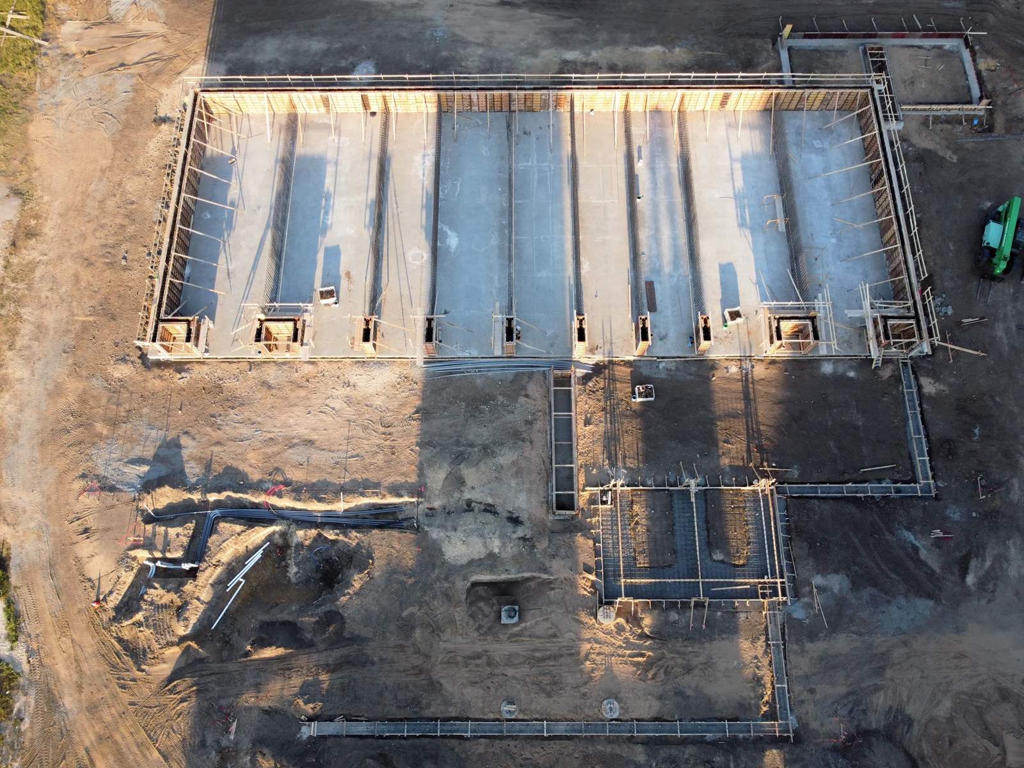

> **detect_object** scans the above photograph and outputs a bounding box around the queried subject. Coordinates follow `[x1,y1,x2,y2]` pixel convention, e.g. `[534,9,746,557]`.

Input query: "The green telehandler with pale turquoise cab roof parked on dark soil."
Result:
[971,197,1024,297]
